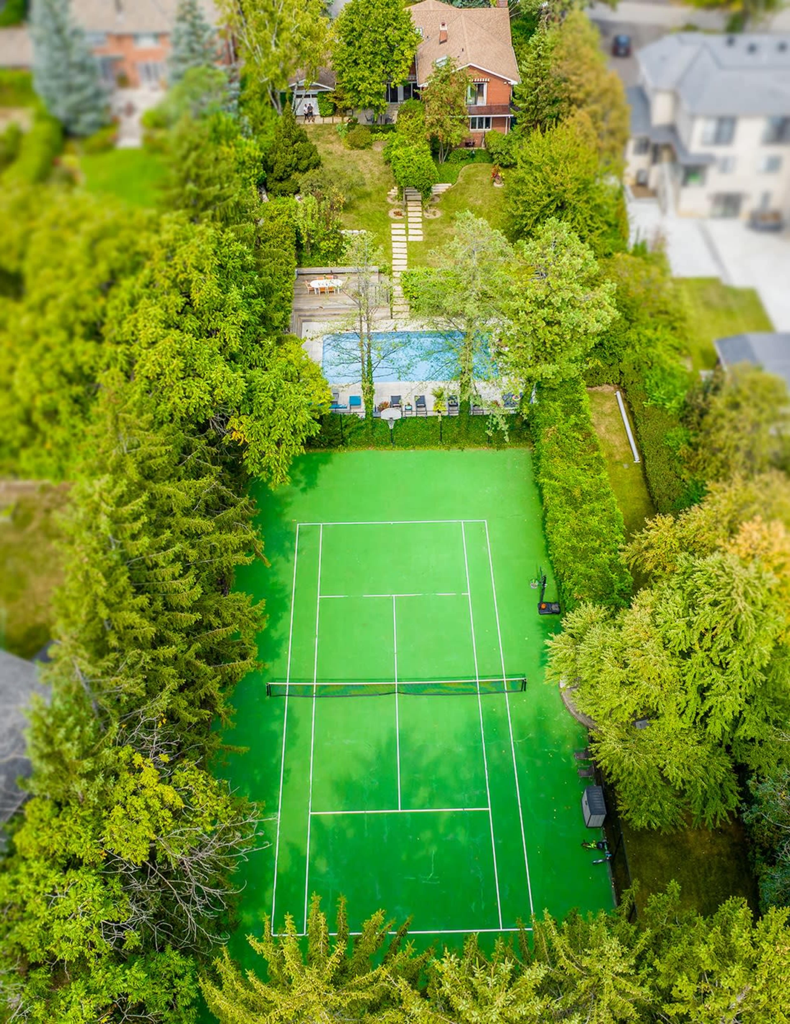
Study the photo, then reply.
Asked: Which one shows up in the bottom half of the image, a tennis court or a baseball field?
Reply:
tennis court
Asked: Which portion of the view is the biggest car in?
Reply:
top right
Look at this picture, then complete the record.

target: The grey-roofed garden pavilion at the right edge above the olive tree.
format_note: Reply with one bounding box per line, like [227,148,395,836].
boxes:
[710,342,790,411]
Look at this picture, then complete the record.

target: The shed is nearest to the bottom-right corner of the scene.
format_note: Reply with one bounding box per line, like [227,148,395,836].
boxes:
[583,785,608,827]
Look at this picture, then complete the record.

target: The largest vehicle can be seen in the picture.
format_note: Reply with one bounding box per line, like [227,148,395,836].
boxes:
[606,31,633,54]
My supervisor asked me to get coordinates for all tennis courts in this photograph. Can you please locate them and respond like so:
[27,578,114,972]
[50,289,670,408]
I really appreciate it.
[203,448,622,1002]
